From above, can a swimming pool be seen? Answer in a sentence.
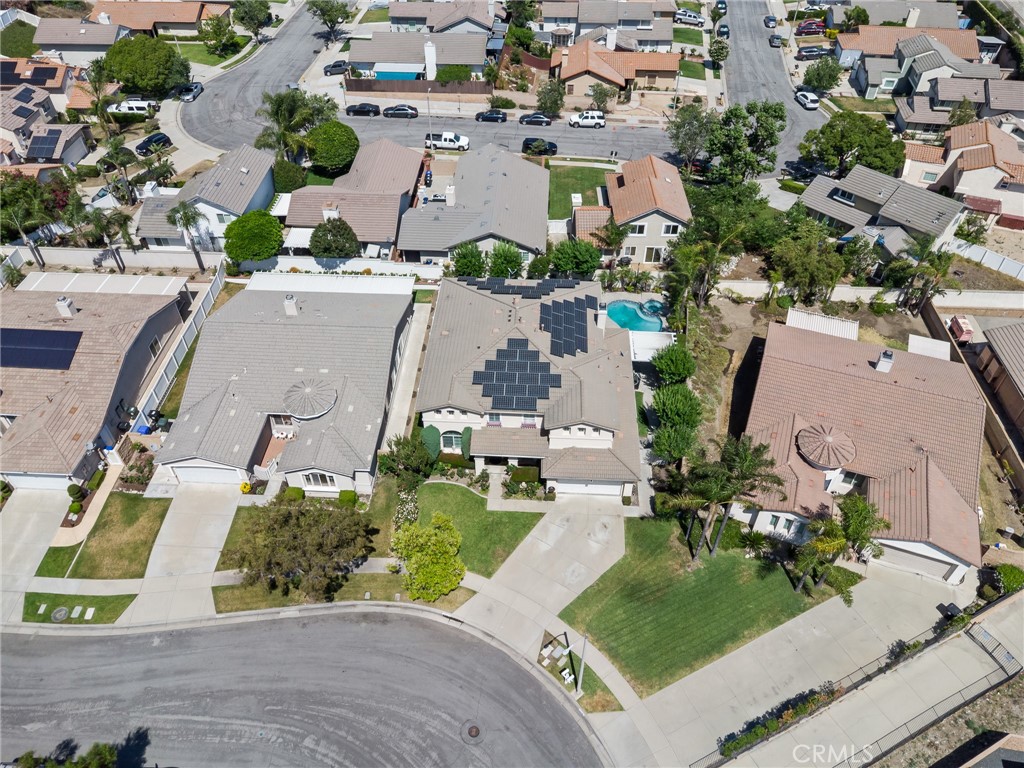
Yes, a swimming pool is visible in the scene.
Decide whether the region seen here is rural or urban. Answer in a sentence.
The land in this view is best described as urban.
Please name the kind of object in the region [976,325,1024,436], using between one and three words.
house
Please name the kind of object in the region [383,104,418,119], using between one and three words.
car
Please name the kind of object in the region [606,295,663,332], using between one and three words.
swimming pool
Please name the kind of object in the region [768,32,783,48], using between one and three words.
car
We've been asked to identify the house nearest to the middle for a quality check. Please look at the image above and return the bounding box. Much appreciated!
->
[416,278,641,500]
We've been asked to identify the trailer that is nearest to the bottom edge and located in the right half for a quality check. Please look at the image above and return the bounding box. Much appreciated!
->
[945,314,976,349]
